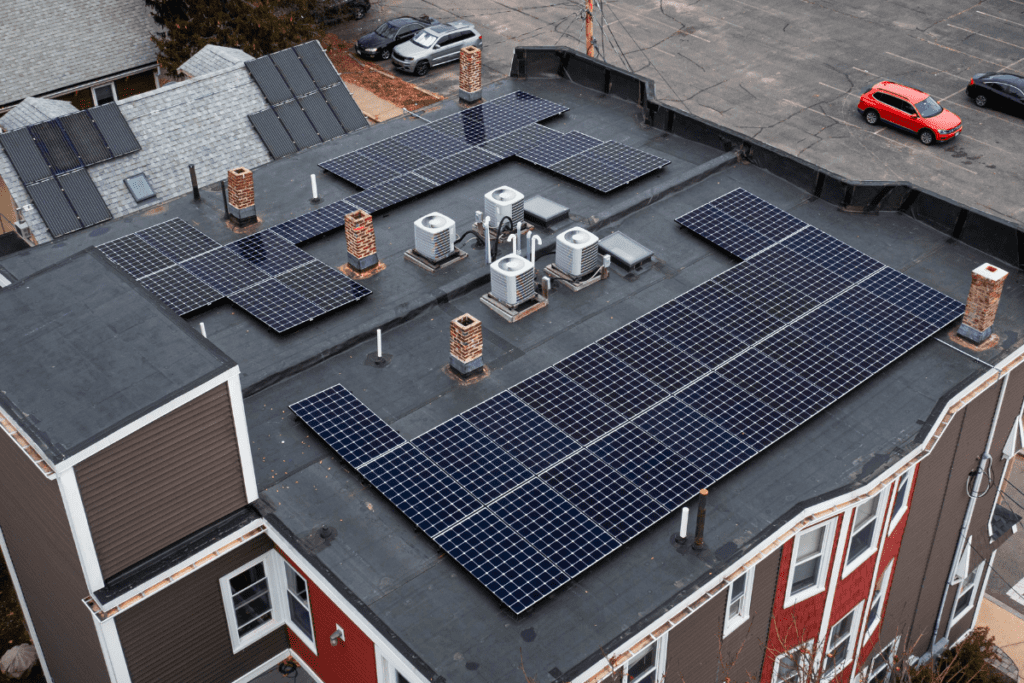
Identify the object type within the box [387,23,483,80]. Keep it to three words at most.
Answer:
car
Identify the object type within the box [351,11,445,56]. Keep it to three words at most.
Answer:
car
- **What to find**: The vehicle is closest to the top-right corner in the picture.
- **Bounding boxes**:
[966,69,1024,111]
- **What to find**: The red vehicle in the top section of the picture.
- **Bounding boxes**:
[860,81,967,145]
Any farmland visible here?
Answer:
No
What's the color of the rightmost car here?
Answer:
black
